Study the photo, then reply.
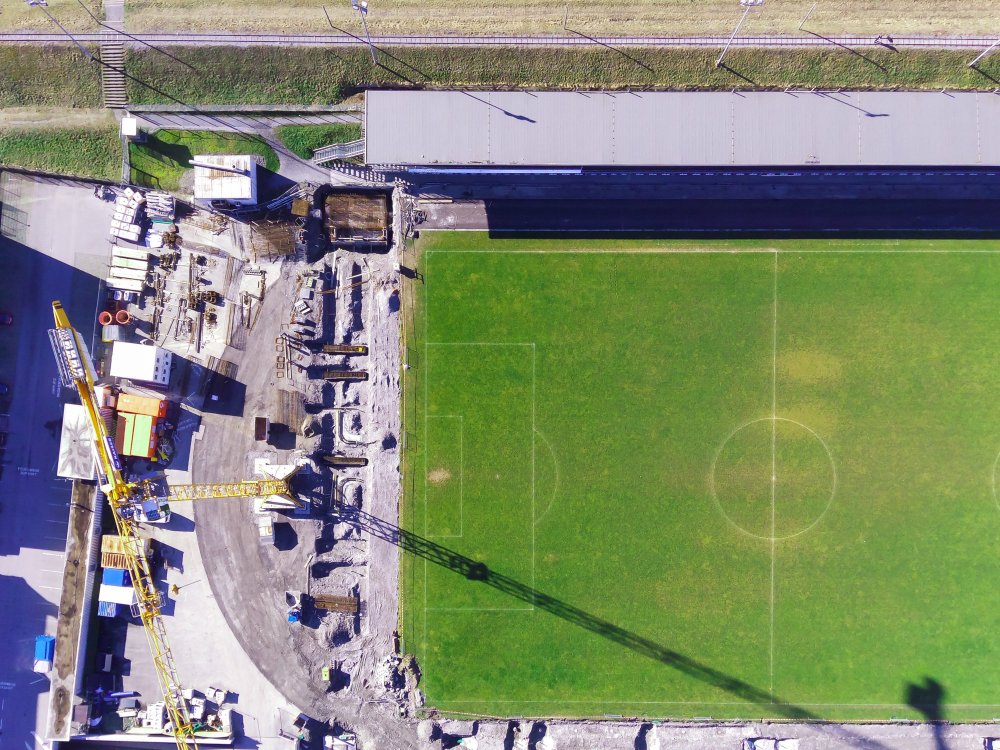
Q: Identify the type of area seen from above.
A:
sports ground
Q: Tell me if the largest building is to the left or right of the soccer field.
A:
to the left of it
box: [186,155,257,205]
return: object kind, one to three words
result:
building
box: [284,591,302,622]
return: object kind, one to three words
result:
vehicle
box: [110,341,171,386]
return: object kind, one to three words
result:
building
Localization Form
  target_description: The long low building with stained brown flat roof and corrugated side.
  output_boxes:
[46,479,106,741]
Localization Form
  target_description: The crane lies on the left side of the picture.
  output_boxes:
[47,301,312,750]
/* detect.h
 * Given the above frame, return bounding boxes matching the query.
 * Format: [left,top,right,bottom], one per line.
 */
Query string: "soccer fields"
[398,231,1000,722]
